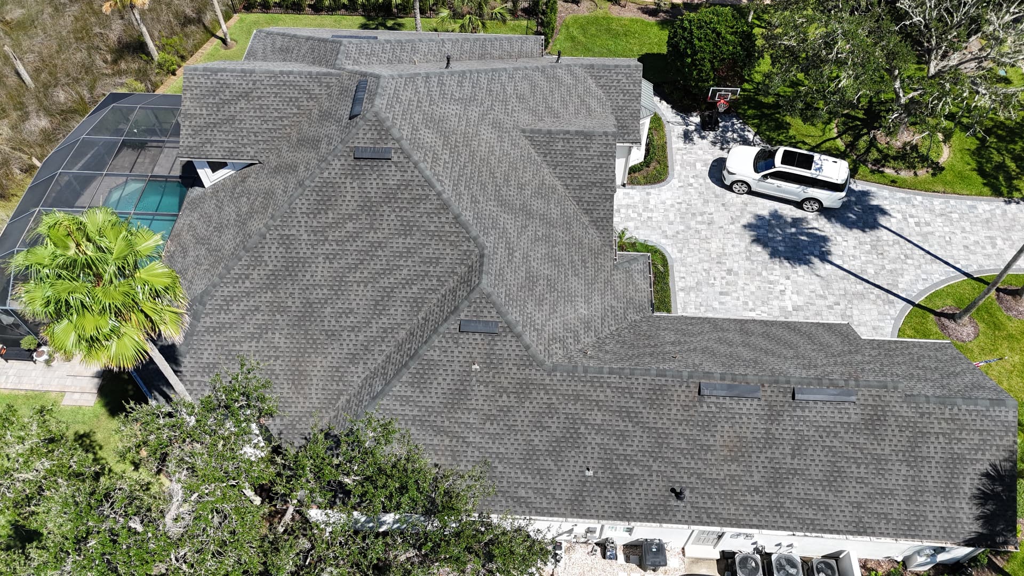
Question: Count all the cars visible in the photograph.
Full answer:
The photo contains exactly 1 car.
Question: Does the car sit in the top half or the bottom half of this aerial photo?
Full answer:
Seen from above, the car lies in the top half of the view.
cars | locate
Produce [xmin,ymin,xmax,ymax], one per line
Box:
[723,148,854,212]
